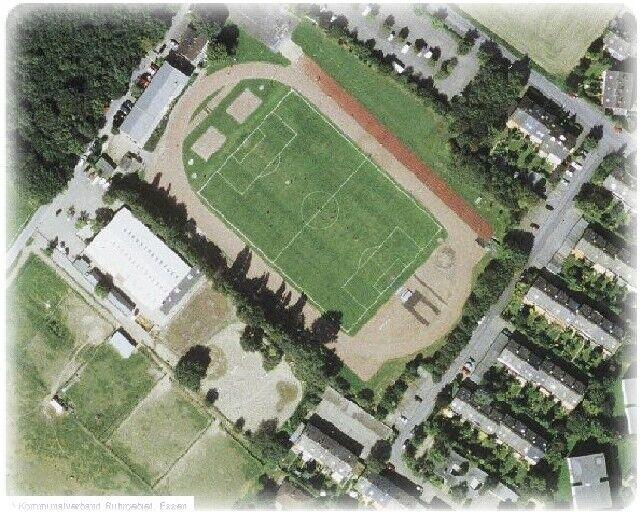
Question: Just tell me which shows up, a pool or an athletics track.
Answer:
athletics track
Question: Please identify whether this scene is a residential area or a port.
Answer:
residential area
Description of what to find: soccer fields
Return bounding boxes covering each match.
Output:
[182,78,451,339]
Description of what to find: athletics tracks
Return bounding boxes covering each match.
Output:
[154,53,494,381]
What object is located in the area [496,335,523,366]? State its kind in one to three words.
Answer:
house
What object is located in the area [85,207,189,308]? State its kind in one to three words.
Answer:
building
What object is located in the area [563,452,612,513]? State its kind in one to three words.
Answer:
building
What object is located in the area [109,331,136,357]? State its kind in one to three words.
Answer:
shed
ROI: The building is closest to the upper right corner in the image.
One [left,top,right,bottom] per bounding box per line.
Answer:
[602,31,636,62]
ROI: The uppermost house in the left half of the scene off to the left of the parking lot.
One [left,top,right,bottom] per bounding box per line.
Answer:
[176,28,207,61]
